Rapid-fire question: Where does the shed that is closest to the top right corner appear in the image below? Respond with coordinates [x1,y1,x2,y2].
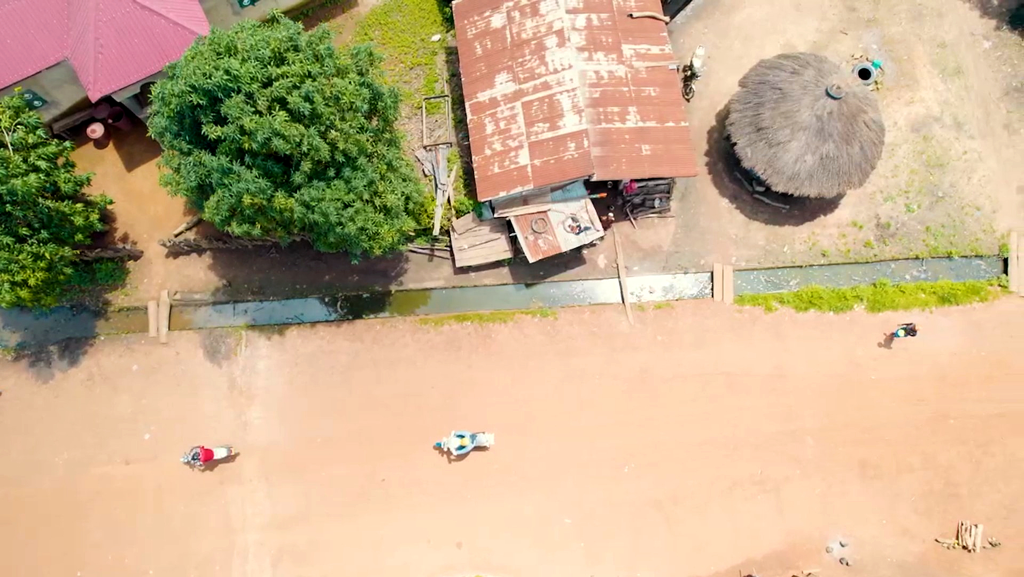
[724,54,886,202]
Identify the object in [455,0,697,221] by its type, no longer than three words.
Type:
building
